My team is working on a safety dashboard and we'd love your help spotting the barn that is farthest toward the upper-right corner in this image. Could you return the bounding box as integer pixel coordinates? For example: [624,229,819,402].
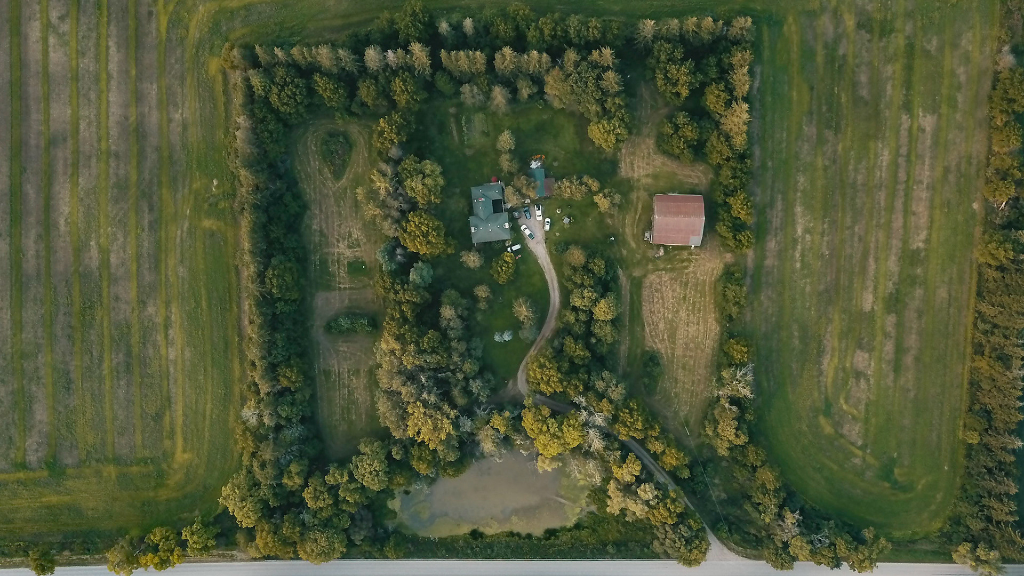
[651,195,705,246]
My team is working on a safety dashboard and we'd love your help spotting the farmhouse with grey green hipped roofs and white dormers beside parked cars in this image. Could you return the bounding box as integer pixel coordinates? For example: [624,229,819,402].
[469,183,511,243]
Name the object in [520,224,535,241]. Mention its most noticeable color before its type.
white vehicle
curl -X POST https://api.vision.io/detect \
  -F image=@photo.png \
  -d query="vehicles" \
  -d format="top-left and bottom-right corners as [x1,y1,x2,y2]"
[512,209,520,219]
[520,224,535,241]
[523,206,531,220]
[544,218,551,231]
[535,203,542,221]
[507,243,521,252]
